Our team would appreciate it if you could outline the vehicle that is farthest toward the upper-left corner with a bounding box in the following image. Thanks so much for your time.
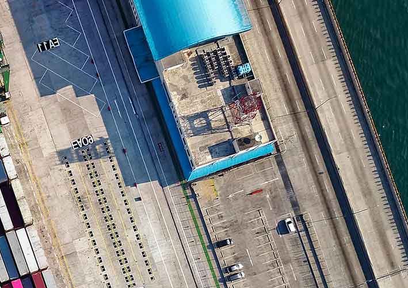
[0,81,13,101]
